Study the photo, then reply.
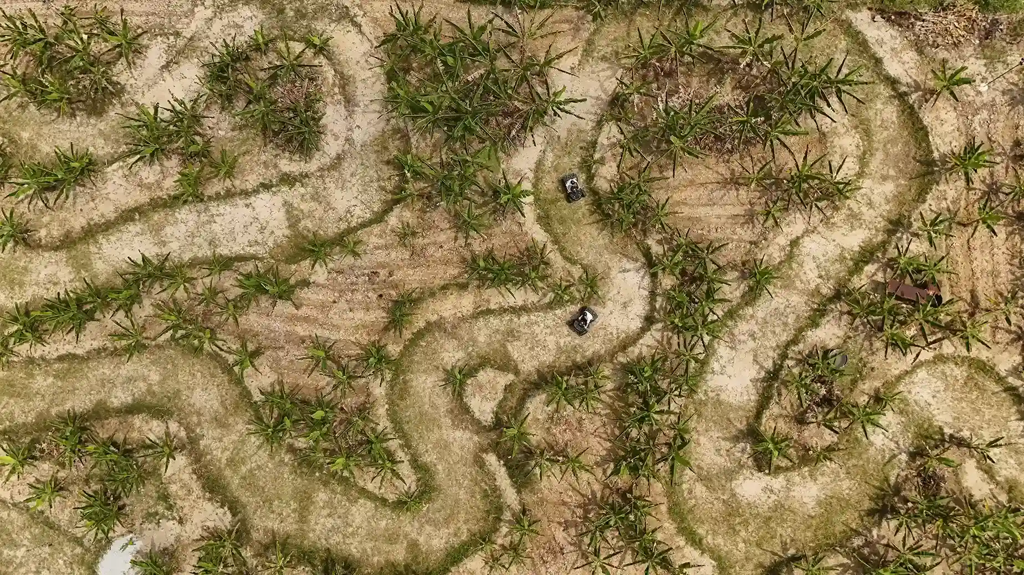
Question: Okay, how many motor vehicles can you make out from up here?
two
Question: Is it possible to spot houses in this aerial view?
No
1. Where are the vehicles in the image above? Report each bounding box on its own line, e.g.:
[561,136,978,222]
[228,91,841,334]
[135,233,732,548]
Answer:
[561,172,584,203]
[571,307,597,337]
